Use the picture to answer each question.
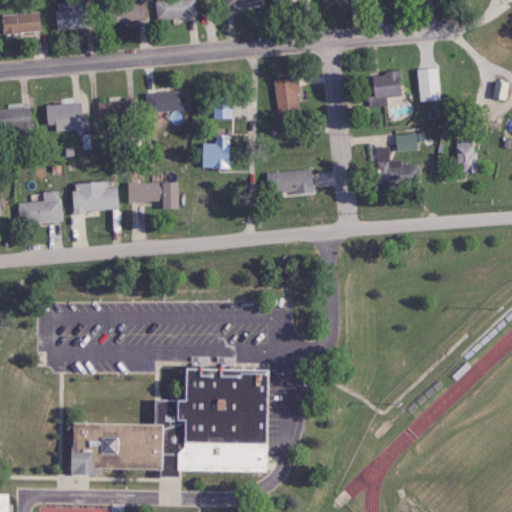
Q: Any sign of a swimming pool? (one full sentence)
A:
Yes, a swimming pool appears in the view.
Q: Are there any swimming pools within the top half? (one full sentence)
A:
Yes, you'll find a swimming pool within the top half.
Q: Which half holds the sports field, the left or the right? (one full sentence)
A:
The sports field is on the right side of the image.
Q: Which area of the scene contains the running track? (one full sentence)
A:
The running track sits in the bottom right section of the image.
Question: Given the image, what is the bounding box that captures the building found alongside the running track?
[72,366,270,476]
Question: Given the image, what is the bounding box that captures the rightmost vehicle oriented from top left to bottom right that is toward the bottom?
[115,360,129,376]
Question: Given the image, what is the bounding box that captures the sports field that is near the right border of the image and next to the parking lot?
[382,352,512,512]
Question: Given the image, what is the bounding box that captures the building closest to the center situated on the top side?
[268,169,316,199]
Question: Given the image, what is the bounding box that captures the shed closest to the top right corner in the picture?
[494,78,510,102]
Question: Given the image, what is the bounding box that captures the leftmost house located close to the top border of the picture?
[2,13,42,38]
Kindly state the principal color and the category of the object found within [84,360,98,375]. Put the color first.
white vehicle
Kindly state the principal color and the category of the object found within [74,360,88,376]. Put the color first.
white vehicle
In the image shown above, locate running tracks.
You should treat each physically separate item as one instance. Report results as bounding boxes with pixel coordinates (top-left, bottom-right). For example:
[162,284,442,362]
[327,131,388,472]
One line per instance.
[345,330,512,512]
